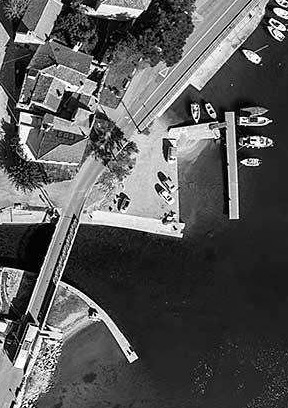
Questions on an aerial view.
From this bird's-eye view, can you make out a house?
Yes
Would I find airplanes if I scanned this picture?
No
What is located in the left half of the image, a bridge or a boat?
bridge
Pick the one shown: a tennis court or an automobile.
automobile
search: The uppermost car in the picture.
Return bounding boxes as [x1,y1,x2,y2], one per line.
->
[168,146,180,162]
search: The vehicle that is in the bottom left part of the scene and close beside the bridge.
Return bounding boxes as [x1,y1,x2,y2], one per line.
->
[18,325,45,372]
